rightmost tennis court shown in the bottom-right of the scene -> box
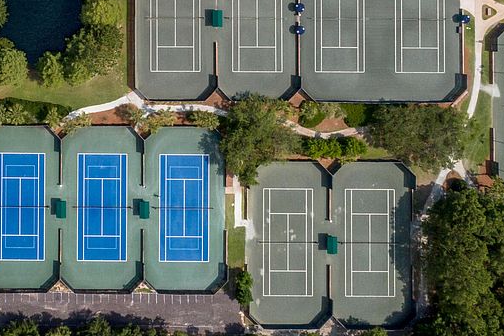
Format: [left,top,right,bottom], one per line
[334,164,413,328]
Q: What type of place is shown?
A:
sports ground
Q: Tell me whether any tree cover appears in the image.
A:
Yes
